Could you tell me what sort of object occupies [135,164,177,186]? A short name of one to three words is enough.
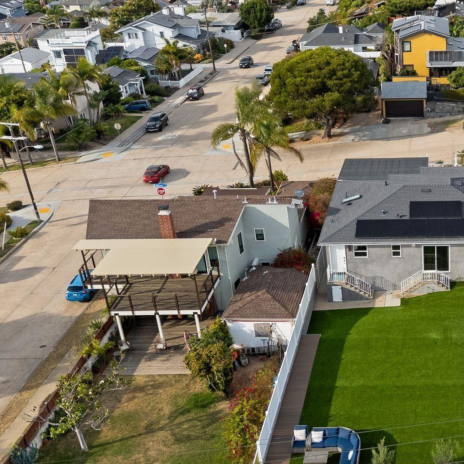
car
